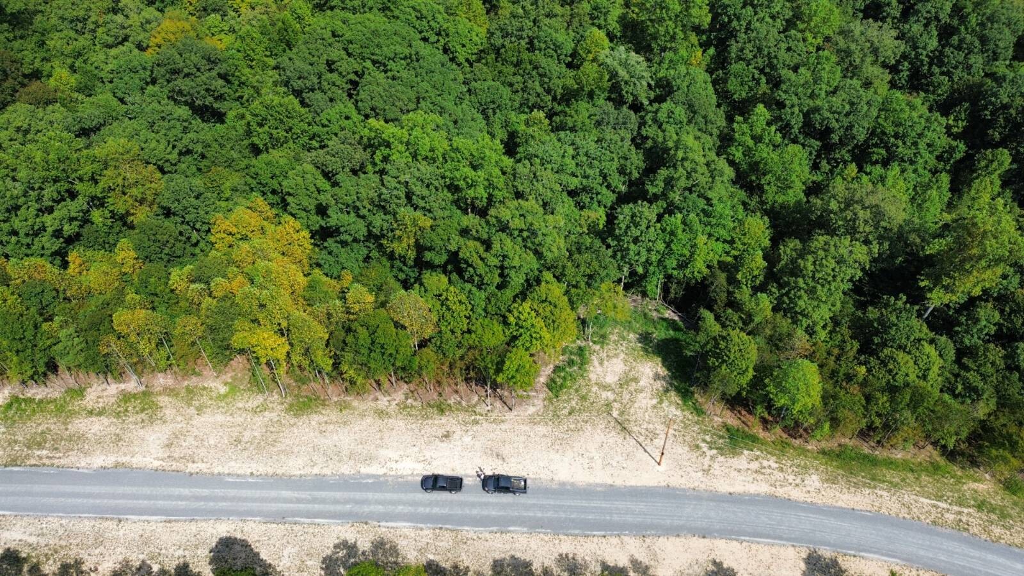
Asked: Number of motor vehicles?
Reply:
2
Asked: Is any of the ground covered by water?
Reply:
No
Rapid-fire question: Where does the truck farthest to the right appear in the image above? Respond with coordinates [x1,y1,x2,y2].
[483,476,529,499]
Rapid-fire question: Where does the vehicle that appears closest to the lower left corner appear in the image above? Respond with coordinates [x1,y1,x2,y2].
[421,475,462,496]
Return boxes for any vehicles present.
[483,476,529,499]
[421,475,462,496]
